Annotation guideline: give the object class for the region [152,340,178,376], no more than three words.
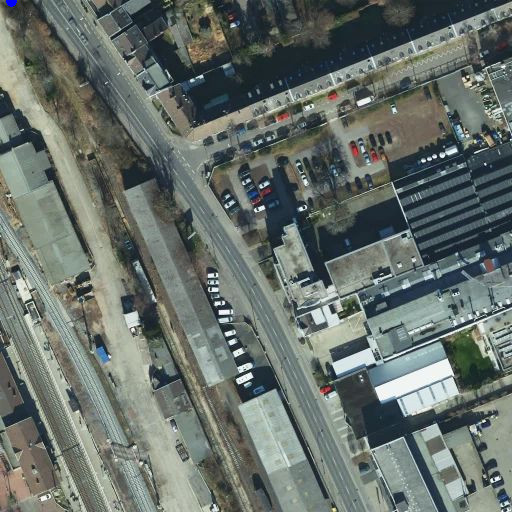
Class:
shed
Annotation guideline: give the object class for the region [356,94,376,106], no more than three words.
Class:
vehicle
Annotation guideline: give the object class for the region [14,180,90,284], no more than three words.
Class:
building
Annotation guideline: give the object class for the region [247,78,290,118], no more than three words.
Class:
house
